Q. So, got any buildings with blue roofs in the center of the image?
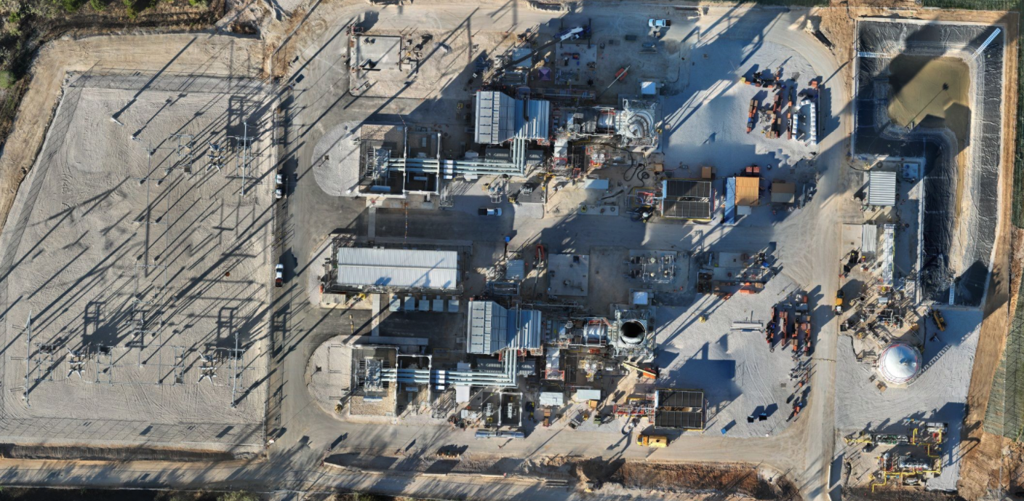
Yes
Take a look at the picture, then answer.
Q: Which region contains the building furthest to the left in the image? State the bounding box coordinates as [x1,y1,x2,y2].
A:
[337,245,459,290]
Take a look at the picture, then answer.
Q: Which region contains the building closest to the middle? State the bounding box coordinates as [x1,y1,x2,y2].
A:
[506,259,524,279]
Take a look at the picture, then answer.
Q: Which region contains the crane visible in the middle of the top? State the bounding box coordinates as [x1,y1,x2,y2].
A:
[488,15,592,83]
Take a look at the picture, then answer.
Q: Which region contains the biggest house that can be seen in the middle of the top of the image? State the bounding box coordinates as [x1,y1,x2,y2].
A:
[475,91,549,146]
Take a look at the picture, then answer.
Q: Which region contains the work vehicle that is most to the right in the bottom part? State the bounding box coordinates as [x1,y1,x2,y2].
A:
[928,303,946,331]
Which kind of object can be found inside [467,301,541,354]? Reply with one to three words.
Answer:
house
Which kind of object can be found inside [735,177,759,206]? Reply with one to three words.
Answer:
building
